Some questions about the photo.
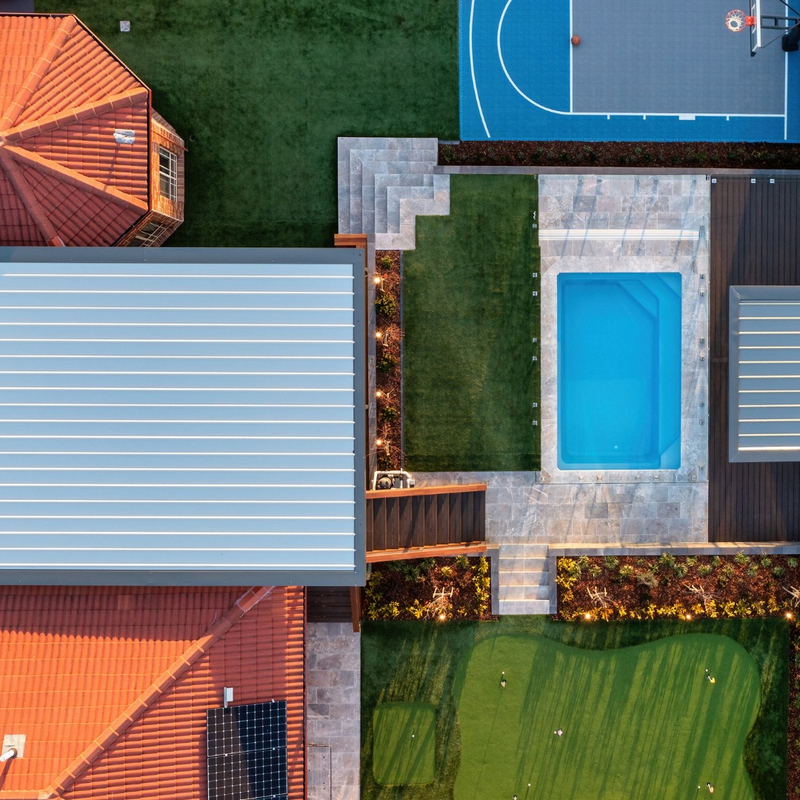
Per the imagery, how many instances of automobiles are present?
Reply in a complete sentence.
There are no automobiles in this view.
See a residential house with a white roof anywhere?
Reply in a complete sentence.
No, I can't see a single residential house with a white roof in this photo.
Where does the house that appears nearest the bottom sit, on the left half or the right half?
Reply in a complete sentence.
It is on the left.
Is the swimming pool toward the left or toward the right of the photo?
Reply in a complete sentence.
The swimming pool sits on the right side.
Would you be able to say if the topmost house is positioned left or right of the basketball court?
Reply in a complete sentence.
The topmost house appears to the left of the basketball court in this view.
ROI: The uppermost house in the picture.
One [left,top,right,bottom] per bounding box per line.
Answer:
[0,12,188,249]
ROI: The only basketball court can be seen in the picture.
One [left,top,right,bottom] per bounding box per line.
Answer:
[459,0,800,141]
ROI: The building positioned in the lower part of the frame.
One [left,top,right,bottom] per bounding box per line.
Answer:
[0,585,309,800]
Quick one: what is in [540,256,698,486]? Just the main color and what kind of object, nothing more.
blue swimming pool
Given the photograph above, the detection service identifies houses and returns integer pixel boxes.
[0,12,188,249]
[0,585,309,800]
